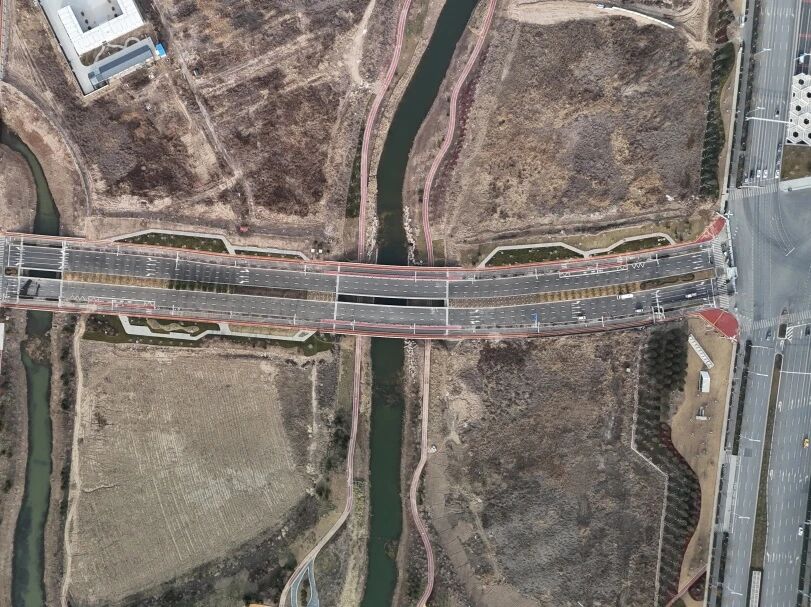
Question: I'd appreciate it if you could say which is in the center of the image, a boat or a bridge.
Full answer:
The one visible in the center of the image is a bridge.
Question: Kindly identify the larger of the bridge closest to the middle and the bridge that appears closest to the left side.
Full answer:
Compared with the bridge that appears closest to the left side, the bridge closest to the middle is the bigger one.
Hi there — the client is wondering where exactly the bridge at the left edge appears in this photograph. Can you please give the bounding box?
[19,232,63,308]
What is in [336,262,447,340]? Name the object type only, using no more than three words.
bridge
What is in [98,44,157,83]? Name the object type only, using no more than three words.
shed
